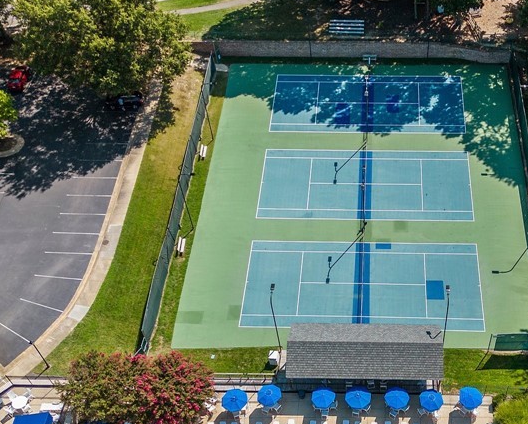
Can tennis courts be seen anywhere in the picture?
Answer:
Yes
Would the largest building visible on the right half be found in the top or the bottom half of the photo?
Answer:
bottom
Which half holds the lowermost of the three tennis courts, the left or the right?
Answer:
right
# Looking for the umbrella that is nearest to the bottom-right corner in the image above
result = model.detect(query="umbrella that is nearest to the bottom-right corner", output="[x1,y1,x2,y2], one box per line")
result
[457,390,484,415]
